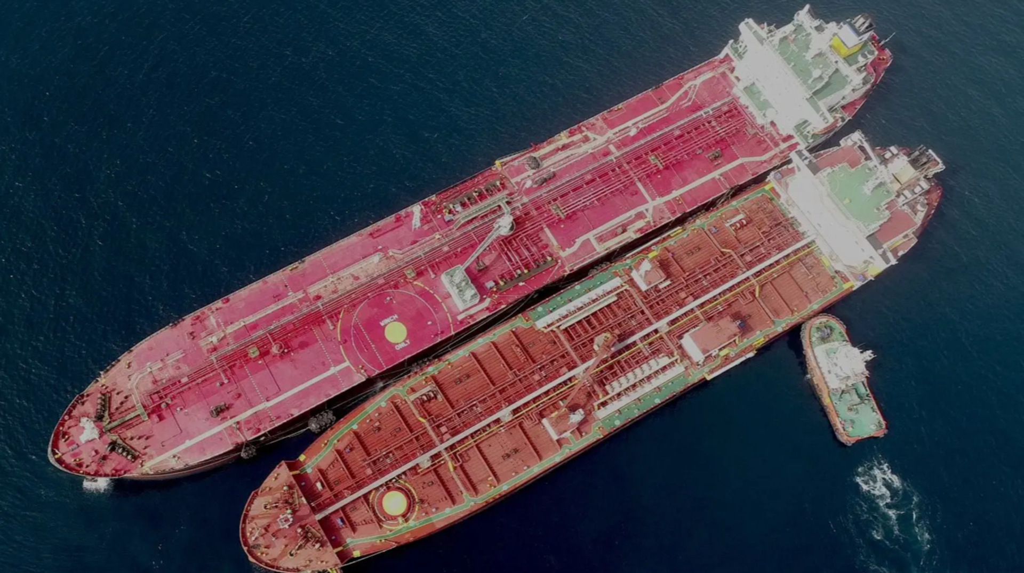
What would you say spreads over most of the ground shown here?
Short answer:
water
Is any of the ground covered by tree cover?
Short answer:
No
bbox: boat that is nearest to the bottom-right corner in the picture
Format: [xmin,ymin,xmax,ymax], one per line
[799,314,886,443]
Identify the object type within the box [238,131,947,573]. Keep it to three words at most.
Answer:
ship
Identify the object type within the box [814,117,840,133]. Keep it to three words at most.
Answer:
boat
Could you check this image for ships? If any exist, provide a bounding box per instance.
[238,131,947,573]
[43,3,894,481]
